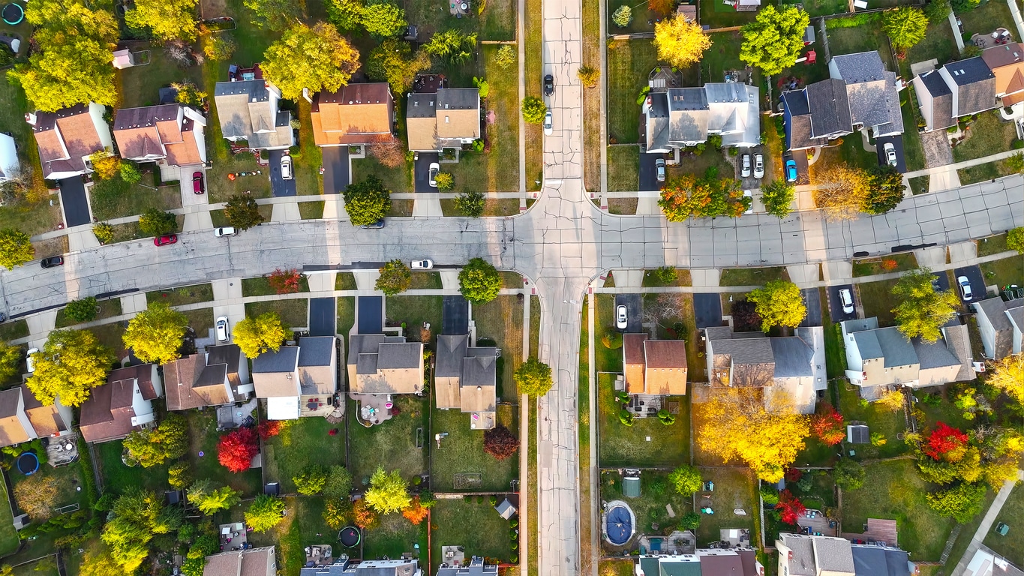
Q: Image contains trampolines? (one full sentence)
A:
Yes, this view includes a trampoline.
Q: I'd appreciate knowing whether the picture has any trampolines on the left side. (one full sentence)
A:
Yes, you'll find a trampoline on the left side.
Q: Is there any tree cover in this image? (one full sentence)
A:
Yes, some tree cover is visible.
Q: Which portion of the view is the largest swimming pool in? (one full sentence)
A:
Look in the bottom portion of the view to spot the largest swimming pool.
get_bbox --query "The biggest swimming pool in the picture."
[602,501,635,547]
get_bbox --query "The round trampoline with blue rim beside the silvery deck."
[14,453,40,476]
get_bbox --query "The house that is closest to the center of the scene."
[434,334,496,412]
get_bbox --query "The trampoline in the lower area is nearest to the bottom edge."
[336,526,361,550]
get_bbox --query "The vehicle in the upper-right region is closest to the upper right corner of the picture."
[883,143,897,166]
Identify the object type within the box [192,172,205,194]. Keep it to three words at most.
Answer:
vehicle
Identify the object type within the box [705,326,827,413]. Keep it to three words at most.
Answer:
house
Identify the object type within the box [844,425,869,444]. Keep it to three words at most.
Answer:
shed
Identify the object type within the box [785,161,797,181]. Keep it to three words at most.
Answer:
vehicle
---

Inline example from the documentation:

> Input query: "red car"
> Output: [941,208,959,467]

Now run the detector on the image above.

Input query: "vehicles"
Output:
[655,159,666,181]
[740,155,751,177]
[192,172,205,194]
[839,290,853,312]
[42,257,64,267]
[429,164,439,186]
[544,75,554,97]
[25,349,40,371]
[217,317,229,339]
[957,274,970,296]
[411,260,433,268]
[785,161,797,181]
[282,157,292,178]
[155,235,177,246]
[0,311,14,322]
[883,143,897,166]
[216,228,237,237]
[617,306,626,327]
[753,155,763,177]
[543,112,553,135]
